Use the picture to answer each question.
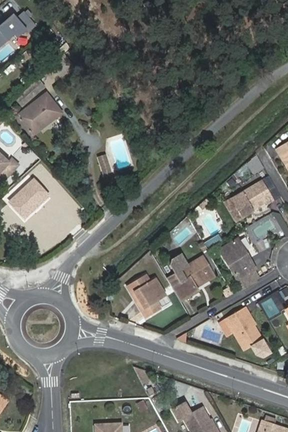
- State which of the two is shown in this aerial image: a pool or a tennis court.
pool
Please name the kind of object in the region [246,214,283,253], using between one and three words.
swimming pool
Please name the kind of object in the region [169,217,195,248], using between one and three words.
swimming pool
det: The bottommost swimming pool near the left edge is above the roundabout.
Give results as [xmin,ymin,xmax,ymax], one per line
[0,123,38,174]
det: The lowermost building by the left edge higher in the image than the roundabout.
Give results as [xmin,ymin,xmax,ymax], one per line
[8,178,48,219]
